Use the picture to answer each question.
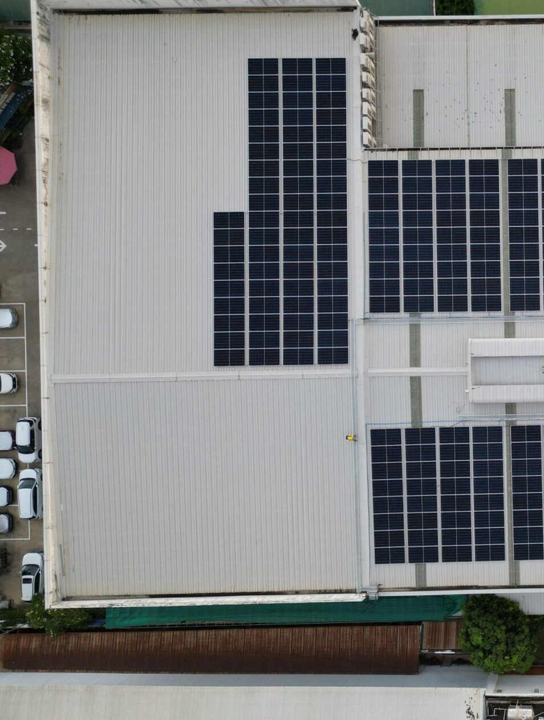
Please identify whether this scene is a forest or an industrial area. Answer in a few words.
industrial area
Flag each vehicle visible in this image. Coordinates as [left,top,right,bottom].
[0,429,17,452]
[16,464,43,518]
[0,308,21,330]
[17,550,46,604]
[14,413,42,461]
[0,458,19,479]
[0,485,14,507]
[0,370,22,396]
[0,511,15,534]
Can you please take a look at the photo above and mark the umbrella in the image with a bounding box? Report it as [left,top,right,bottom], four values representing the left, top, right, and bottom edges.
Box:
[0,147,21,186]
